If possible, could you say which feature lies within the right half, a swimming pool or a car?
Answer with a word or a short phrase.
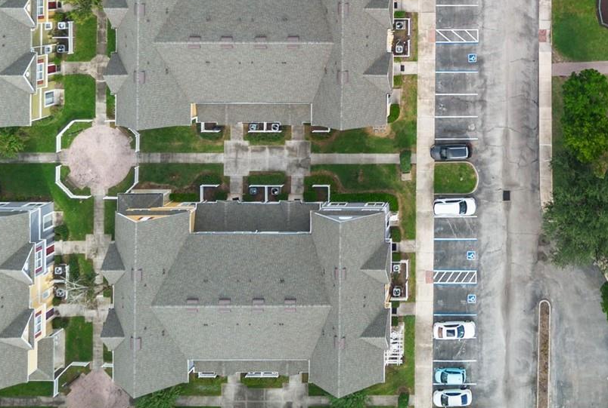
car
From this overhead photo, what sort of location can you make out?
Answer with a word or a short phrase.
residential area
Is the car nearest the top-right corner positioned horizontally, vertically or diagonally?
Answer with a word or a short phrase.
horizontally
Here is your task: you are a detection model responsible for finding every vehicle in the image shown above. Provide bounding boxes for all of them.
[433,388,472,408]
[430,143,471,163]
[433,320,475,341]
[434,197,476,218]
[436,366,468,387]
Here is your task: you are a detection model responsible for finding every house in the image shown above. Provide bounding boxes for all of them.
[104,189,392,397]
[107,0,394,132]
[0,200,66,390]
[0,0,55,130]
